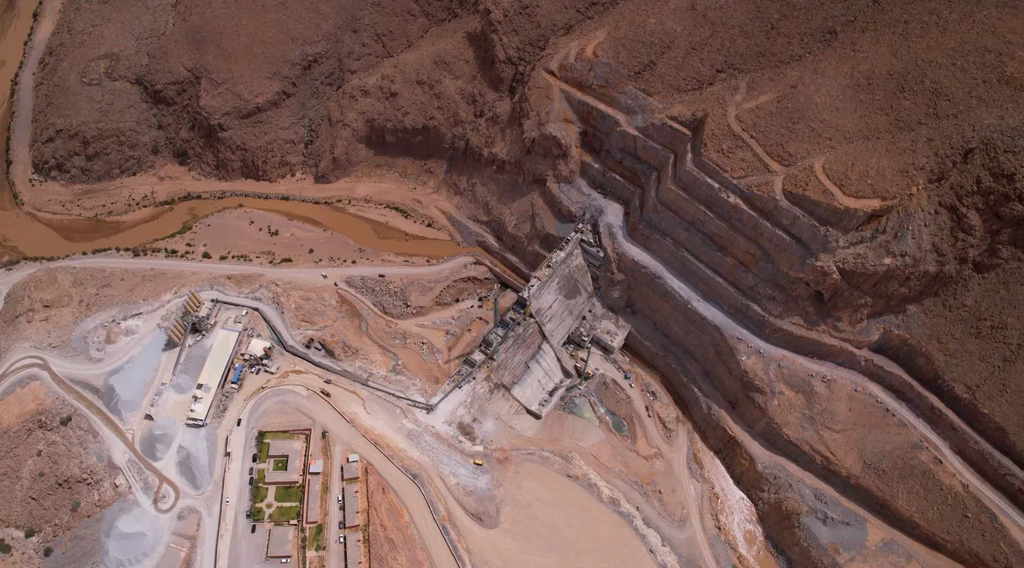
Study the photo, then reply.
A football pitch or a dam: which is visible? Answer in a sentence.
Visible in the photo is a dam.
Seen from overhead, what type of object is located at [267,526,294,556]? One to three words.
house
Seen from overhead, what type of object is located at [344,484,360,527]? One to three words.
house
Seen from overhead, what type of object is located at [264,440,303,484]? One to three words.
building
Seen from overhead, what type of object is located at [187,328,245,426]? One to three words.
shed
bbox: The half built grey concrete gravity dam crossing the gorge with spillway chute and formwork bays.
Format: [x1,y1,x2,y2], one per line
[429,223,605,419]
